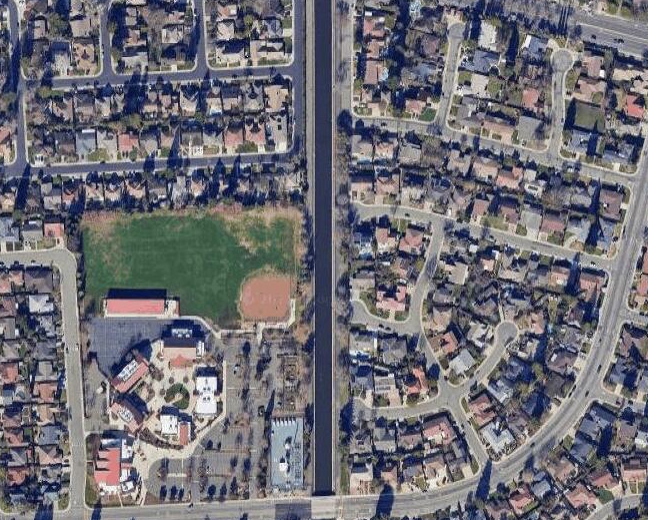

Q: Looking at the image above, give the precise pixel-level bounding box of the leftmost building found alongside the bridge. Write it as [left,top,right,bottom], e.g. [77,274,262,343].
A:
[272,418,304,490]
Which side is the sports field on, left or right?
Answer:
left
